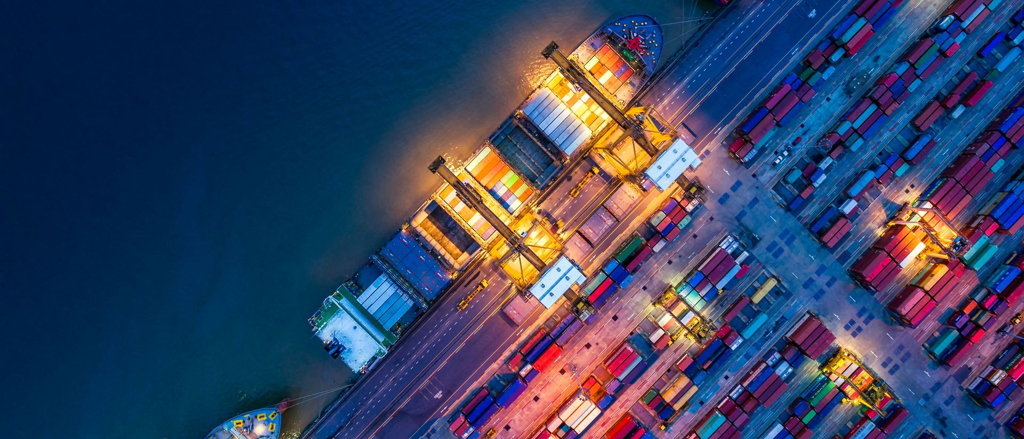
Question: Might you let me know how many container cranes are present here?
5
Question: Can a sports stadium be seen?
No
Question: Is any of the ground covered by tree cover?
No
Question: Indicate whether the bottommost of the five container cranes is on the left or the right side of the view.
right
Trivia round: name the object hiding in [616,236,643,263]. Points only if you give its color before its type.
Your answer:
green shipping container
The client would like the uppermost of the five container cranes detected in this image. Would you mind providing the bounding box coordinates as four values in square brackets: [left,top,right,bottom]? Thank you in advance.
[541,34,720,208]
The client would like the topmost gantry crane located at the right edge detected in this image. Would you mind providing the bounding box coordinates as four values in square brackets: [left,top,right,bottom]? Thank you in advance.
[887,203,973,262]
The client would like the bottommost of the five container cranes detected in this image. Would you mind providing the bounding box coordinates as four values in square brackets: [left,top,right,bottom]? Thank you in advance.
[823,349,900,414]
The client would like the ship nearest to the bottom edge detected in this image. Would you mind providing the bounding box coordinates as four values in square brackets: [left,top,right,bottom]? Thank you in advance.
[205,398,292,439]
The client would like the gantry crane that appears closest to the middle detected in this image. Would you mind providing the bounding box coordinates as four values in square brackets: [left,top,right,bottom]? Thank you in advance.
[424,152,604,327]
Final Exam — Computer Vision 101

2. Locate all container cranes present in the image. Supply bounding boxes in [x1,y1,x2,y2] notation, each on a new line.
[541,34,720,208]
[653,289,720,349]
[887,203,973,262]
[823,349,900,414]
[424,152,604,327]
